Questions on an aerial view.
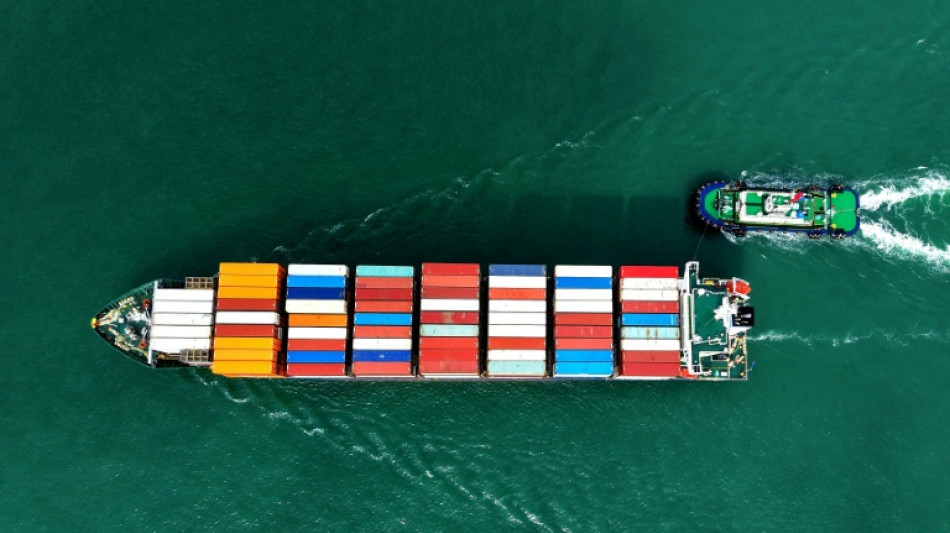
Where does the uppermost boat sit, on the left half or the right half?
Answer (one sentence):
The uppermost boat appears in the right half of the scene.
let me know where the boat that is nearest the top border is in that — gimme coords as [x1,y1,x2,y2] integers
[688,179,860,240]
